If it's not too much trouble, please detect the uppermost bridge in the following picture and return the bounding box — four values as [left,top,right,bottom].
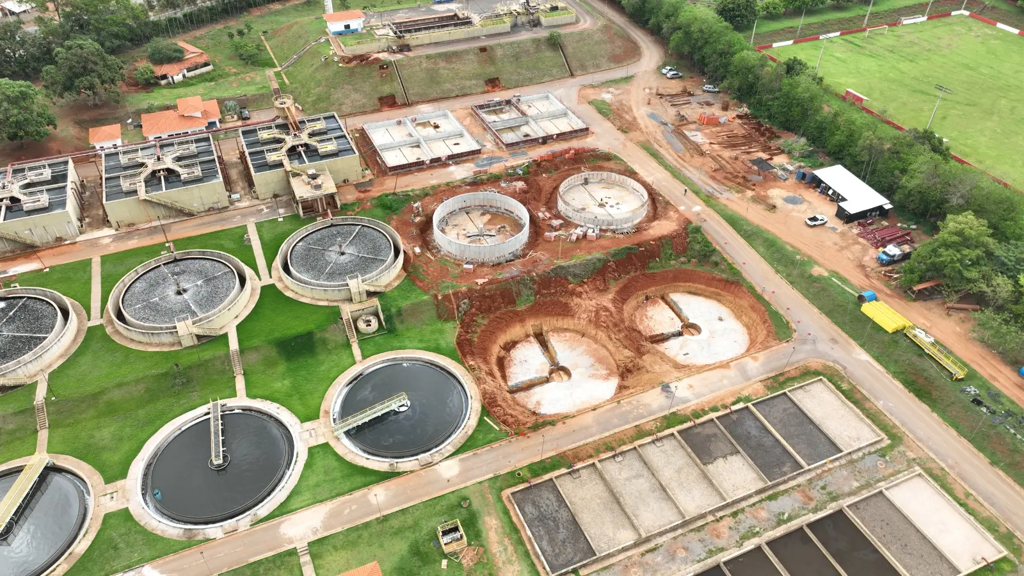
[904,325,970,379]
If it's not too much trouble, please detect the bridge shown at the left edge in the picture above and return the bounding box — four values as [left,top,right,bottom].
[0,448,51,527]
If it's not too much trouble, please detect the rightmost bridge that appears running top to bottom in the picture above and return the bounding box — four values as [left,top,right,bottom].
[206,396,229,463]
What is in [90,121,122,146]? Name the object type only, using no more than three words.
house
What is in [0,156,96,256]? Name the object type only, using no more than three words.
storage tank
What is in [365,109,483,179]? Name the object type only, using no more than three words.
storage tank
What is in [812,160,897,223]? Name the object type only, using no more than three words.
shed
